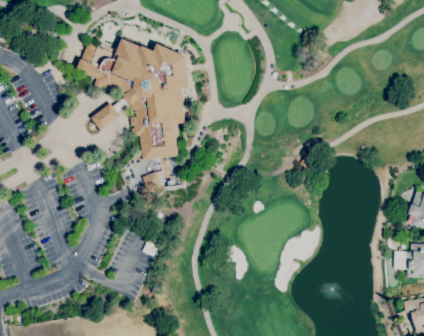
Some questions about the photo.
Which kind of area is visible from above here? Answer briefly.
golf course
